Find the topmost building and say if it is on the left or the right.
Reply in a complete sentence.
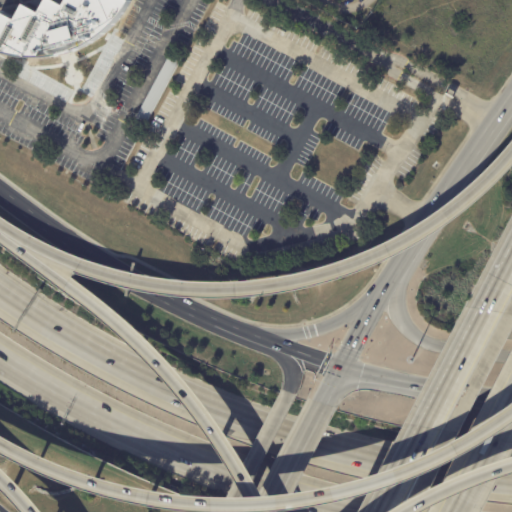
It is on the left.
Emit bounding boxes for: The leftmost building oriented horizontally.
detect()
[0,0,128,58]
